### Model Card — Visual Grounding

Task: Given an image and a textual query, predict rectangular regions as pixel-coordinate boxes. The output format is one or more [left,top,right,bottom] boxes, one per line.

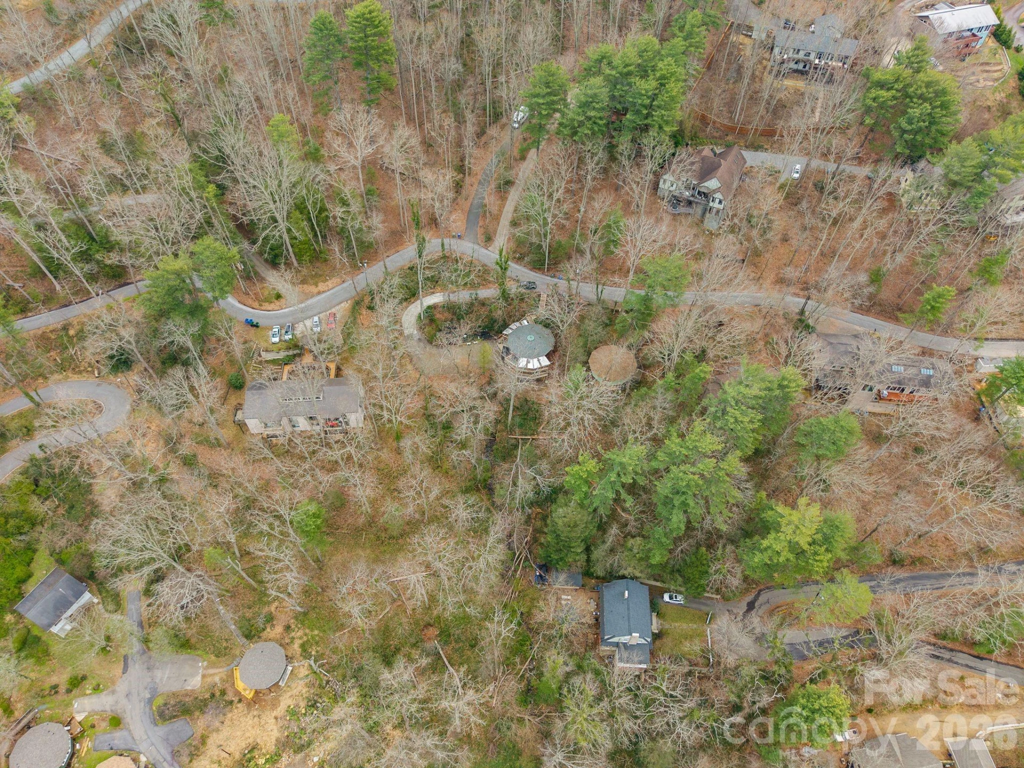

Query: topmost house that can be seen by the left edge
[17,566,98,641]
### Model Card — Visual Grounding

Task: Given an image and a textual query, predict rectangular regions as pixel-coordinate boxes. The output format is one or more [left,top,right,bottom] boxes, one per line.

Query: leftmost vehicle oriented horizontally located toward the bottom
[662,591,686,604]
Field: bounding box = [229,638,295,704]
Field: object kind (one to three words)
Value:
house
